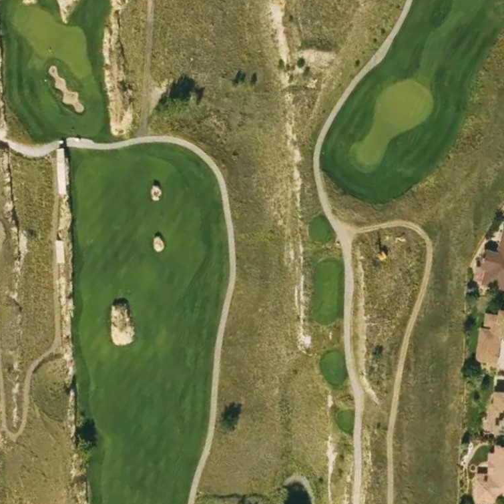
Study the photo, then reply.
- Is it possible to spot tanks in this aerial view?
No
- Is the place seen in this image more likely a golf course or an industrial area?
golf course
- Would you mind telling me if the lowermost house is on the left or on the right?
right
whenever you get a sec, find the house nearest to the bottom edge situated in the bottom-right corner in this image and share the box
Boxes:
[473,448,504,504]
